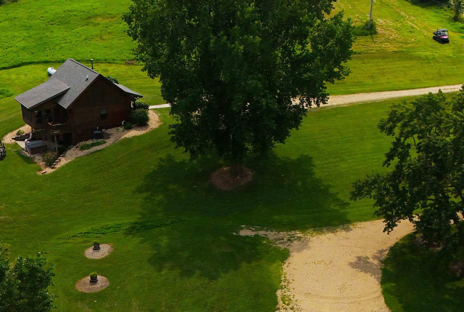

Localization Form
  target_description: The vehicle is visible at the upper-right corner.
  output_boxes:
[432,25,449,44]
